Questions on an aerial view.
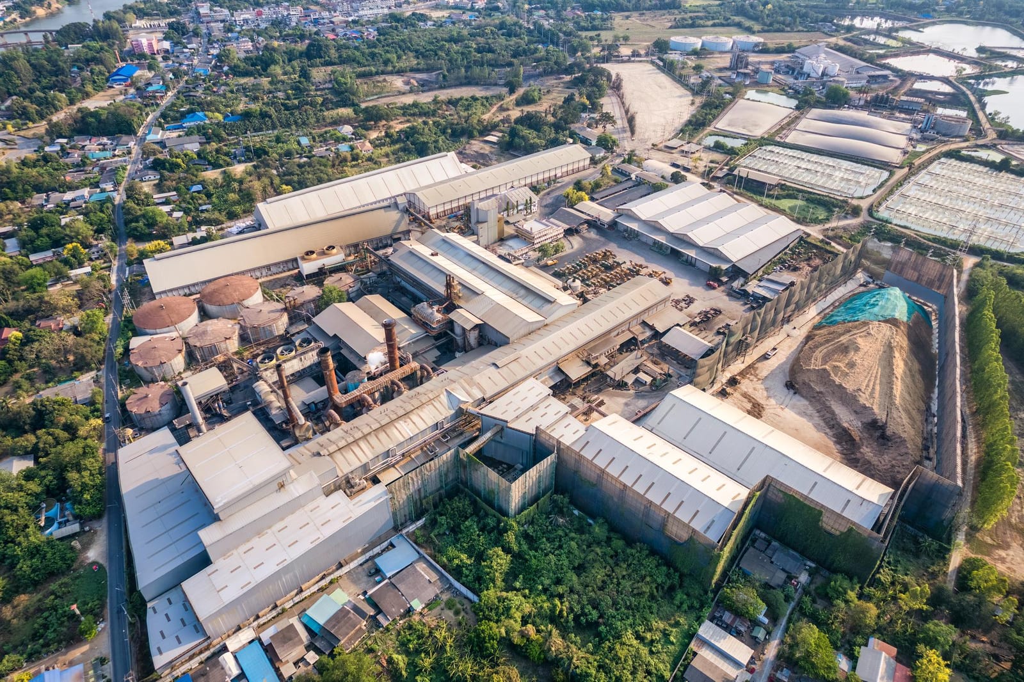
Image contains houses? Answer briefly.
Yes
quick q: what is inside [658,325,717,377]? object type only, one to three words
shed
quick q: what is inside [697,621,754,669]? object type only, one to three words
house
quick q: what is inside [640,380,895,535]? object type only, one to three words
building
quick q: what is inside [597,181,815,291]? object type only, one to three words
warehouse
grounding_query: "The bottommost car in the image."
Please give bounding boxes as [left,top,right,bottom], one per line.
[362,564,379,577]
